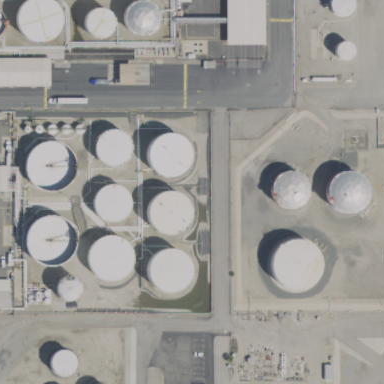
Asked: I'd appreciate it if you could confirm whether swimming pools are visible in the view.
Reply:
No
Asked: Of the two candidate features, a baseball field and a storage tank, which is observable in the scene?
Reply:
storage tank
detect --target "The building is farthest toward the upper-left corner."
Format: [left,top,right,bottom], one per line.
[0,58,51,87]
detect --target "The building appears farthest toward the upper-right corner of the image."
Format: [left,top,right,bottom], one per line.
[226,0,266,46]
